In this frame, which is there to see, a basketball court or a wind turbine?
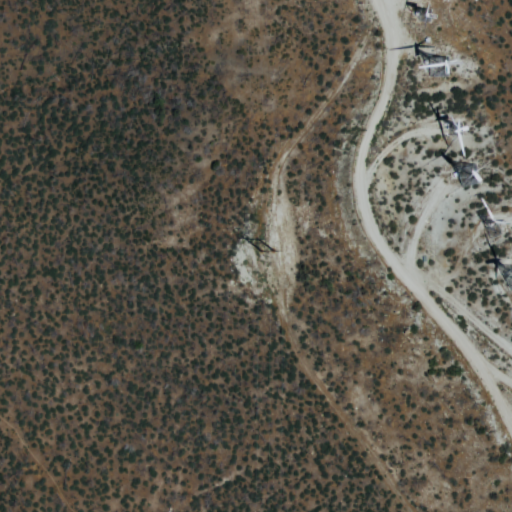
wind turbine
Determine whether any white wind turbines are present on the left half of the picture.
No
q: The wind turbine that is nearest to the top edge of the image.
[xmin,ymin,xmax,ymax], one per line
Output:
[414,0,437,24]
